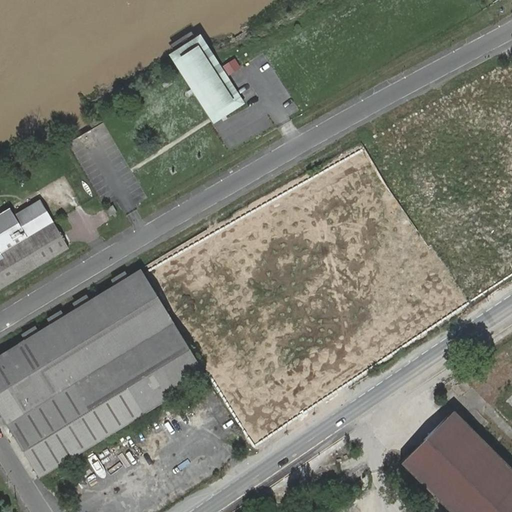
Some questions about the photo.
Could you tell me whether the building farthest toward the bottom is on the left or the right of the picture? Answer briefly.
right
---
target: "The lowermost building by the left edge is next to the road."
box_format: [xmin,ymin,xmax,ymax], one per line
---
[0,269,204,478]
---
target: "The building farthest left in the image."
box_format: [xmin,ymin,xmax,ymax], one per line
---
[0,200,69,288]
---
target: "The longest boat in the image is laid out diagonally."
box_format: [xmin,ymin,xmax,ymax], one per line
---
[86,454,106,478]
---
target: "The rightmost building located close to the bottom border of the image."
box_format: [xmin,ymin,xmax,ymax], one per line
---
[403,412,512,512]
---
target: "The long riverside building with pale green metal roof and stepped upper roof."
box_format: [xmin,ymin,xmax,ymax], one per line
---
[168,31,245,122]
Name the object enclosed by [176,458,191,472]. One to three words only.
vehicle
